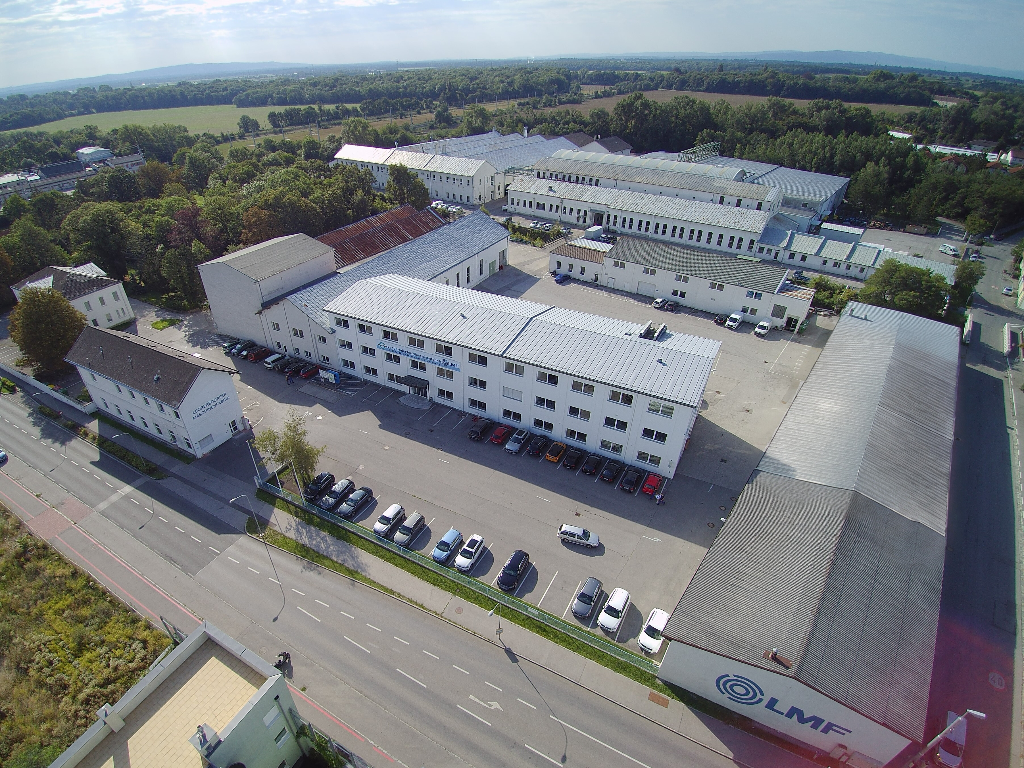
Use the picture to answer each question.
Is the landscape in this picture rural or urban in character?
urban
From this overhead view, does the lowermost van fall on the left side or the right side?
right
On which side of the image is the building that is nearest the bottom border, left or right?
left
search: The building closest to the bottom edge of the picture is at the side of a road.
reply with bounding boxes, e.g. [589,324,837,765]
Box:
[31,617,313,768]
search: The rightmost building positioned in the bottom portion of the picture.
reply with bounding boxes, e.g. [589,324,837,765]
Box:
[656,300,960,763]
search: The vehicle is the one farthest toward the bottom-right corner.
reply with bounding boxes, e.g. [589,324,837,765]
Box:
[929,699,983,768]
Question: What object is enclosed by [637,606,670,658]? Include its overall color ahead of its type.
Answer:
white car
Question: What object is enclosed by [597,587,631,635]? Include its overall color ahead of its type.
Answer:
white car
